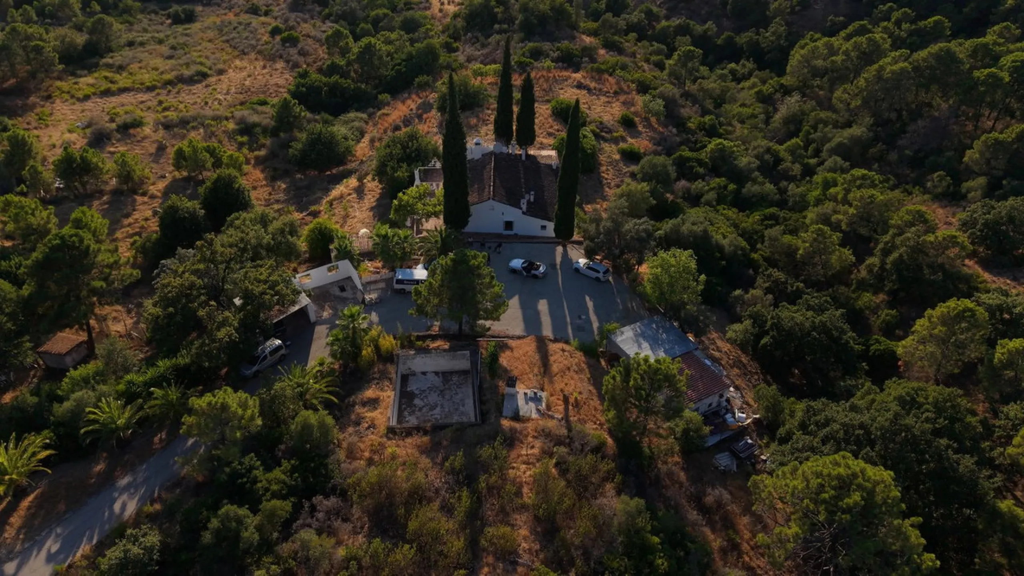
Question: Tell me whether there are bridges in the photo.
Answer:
No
